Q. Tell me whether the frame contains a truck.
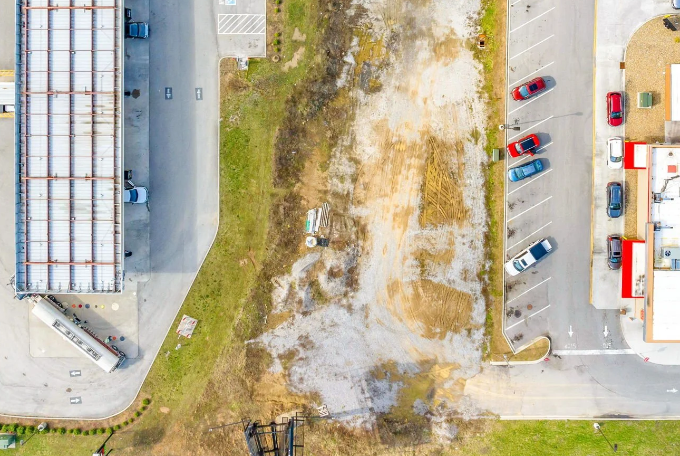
Yes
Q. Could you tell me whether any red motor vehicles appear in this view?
Yes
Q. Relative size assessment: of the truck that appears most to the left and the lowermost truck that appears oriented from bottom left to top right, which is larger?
the truck that appears most to the left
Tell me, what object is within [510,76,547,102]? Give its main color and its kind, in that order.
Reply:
red car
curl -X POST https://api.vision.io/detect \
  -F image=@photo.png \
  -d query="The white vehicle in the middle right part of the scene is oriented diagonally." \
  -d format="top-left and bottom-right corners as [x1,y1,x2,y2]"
[506,239,555,274]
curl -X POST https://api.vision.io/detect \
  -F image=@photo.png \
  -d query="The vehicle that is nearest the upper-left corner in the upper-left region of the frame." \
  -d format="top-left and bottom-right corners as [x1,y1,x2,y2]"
[125,20,150,38]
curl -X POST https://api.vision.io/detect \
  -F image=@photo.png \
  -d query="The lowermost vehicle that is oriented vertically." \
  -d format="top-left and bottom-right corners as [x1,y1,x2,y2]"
[606,234,623,270]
